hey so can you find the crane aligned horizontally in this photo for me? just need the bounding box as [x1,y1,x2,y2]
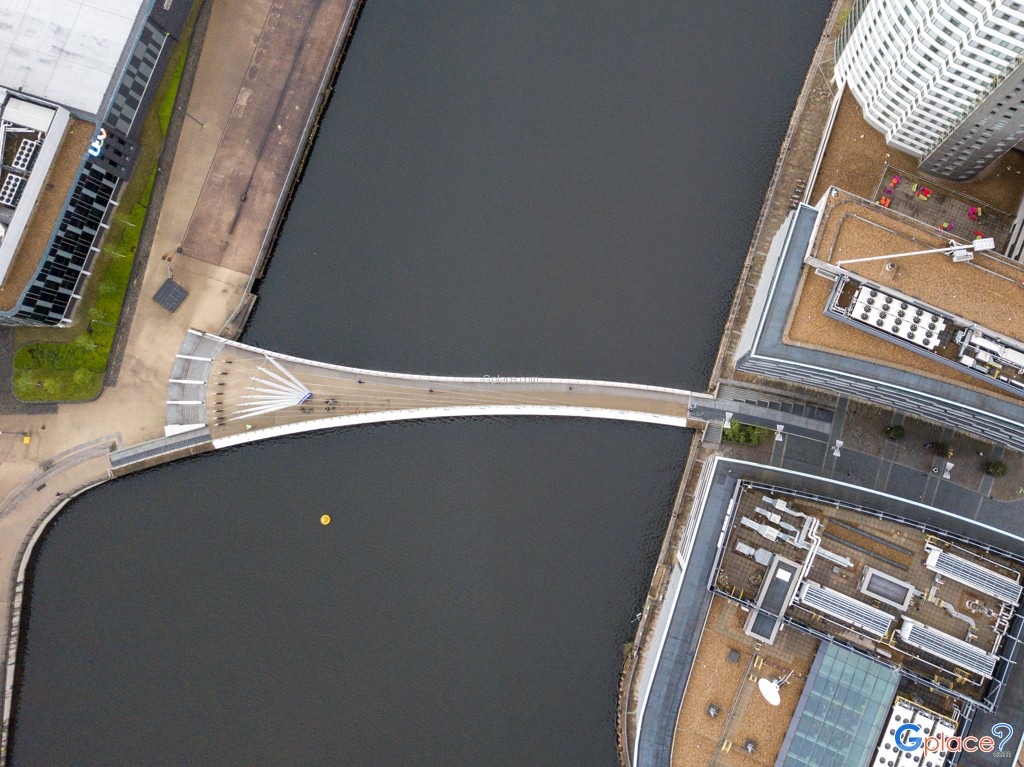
[834,238,994,270]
